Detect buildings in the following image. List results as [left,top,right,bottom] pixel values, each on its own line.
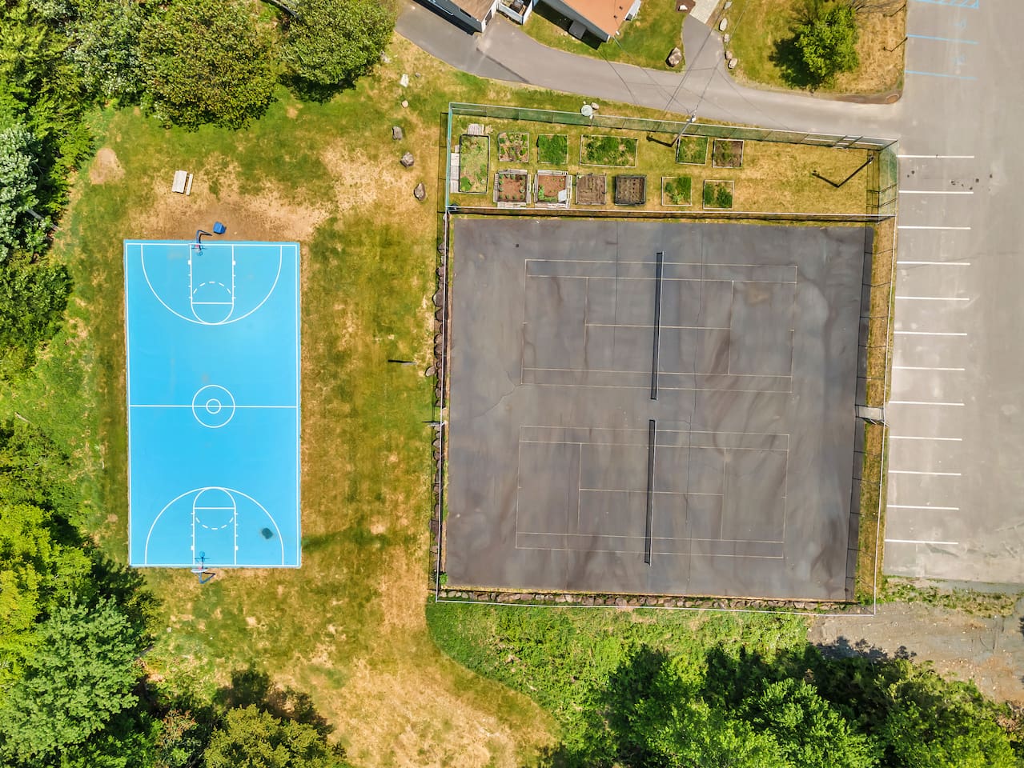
[423,0,498,33]
[538,0,647,42]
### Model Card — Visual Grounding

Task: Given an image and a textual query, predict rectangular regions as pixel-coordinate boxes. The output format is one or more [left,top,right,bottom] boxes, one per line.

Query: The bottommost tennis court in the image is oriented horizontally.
[445,409,864,601]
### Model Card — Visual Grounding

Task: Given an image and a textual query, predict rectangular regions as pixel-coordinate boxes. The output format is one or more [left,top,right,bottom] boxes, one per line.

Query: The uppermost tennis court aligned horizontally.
[449,219,873,422]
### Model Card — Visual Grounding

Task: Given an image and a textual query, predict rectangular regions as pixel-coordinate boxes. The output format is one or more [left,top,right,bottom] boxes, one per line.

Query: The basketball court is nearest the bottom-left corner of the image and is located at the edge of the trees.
[124,240,302,568]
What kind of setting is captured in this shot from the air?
sports ground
